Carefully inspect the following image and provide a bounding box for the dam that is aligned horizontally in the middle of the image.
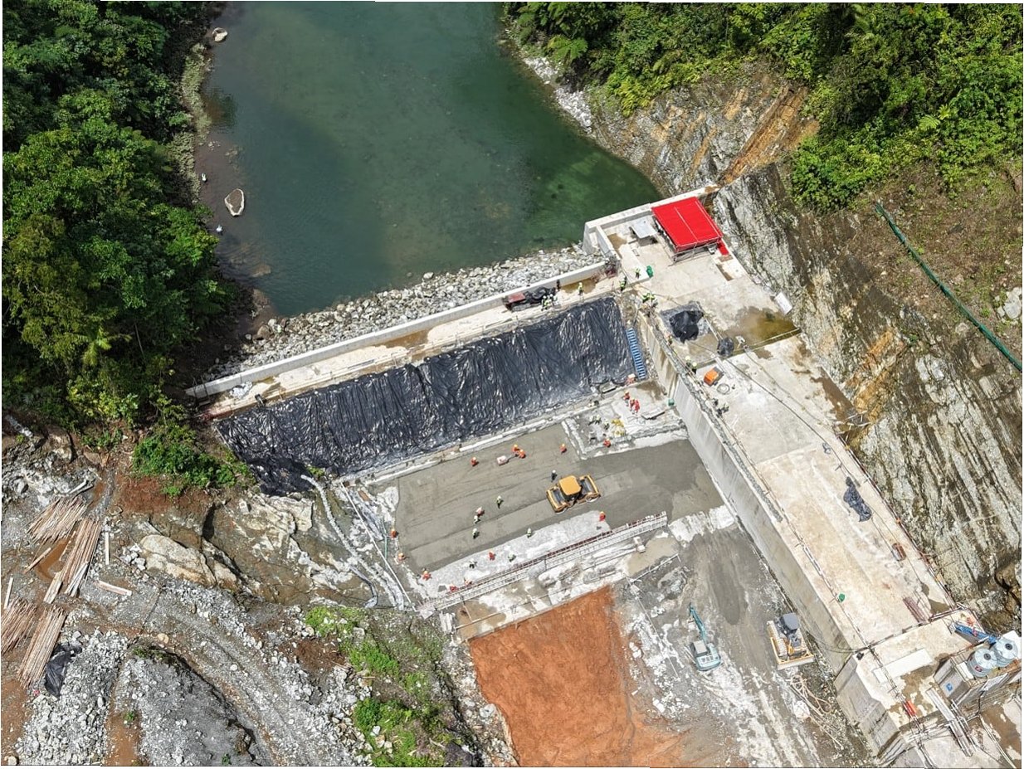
[196,263,657,501]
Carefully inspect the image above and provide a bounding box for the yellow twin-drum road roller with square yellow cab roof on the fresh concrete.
[549,483,603,519]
